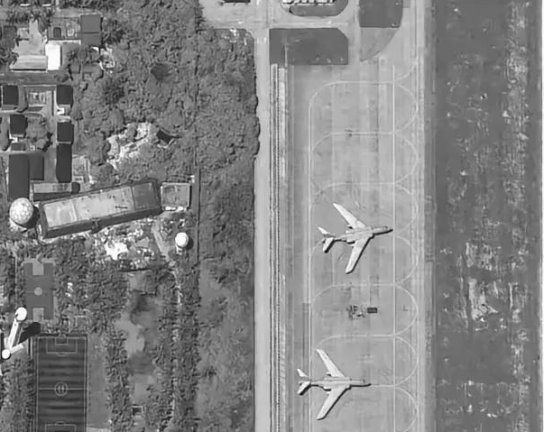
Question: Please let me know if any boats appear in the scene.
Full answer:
No, no boat is visible in the view.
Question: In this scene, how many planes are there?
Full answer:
My tally gives 2 planes in this view.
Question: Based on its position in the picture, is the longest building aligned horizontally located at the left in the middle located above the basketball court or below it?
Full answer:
The longest building aligned horizontally located at the left in the middle appears above the basketball court in the picture.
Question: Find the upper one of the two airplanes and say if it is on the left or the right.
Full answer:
You can find the upper one of the two airplanes on the right side of the picture.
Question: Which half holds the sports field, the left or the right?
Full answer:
The sports field appears in the left half of the scene.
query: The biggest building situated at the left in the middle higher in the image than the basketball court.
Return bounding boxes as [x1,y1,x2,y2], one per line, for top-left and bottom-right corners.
[39,181,162,241]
